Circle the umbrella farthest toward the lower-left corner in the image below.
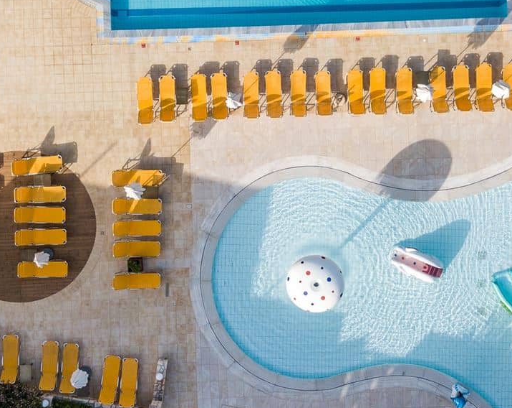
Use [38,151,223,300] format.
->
[72,362,96,384]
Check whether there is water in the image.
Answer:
Yes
